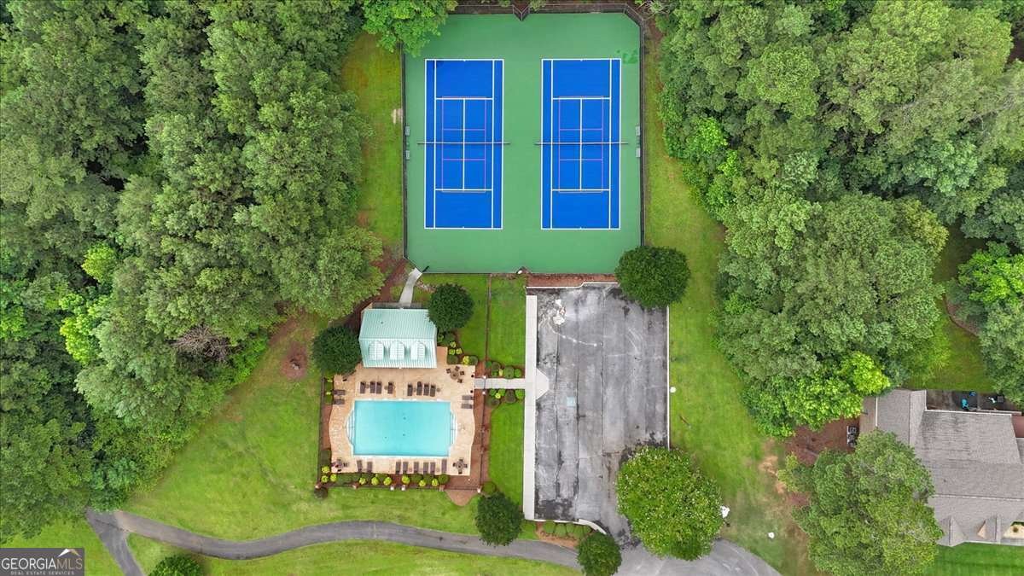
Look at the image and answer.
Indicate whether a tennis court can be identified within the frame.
Yes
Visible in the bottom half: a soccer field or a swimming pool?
swimming pool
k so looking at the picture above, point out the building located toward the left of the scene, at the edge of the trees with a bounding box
[356,308,439,368]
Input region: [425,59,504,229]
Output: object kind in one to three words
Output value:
tennis court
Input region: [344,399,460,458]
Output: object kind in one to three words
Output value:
swimming pool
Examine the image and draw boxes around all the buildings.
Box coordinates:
[863,388,1024,553]
[356,308,439,368]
